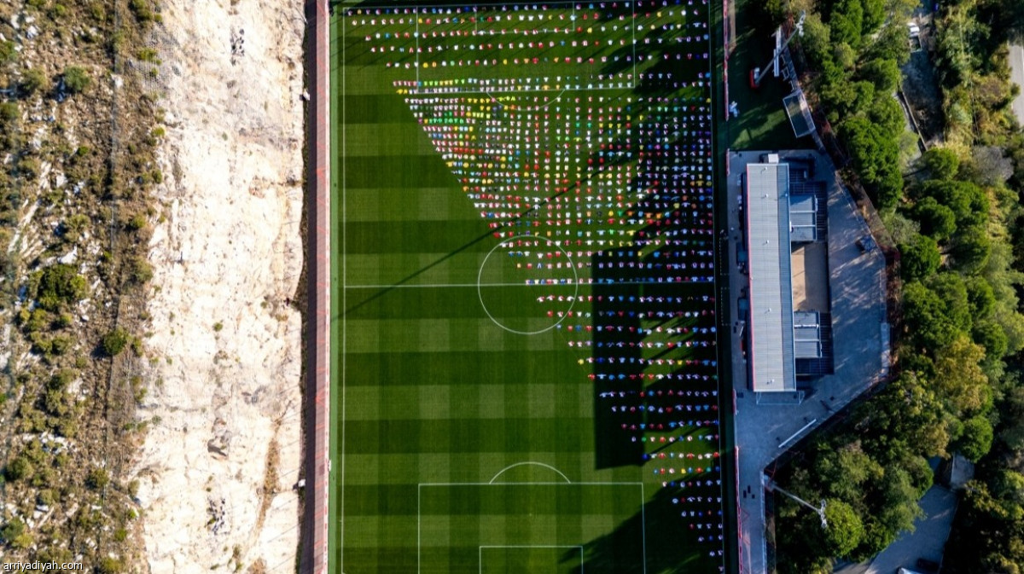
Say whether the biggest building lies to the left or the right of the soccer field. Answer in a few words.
on its right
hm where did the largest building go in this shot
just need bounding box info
[743,152,795,394]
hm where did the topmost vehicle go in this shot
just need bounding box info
[906,24,924,53]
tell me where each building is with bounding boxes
[943,450,978,491]
[743,152,795,394]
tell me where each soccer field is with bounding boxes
[329,0,741,574]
